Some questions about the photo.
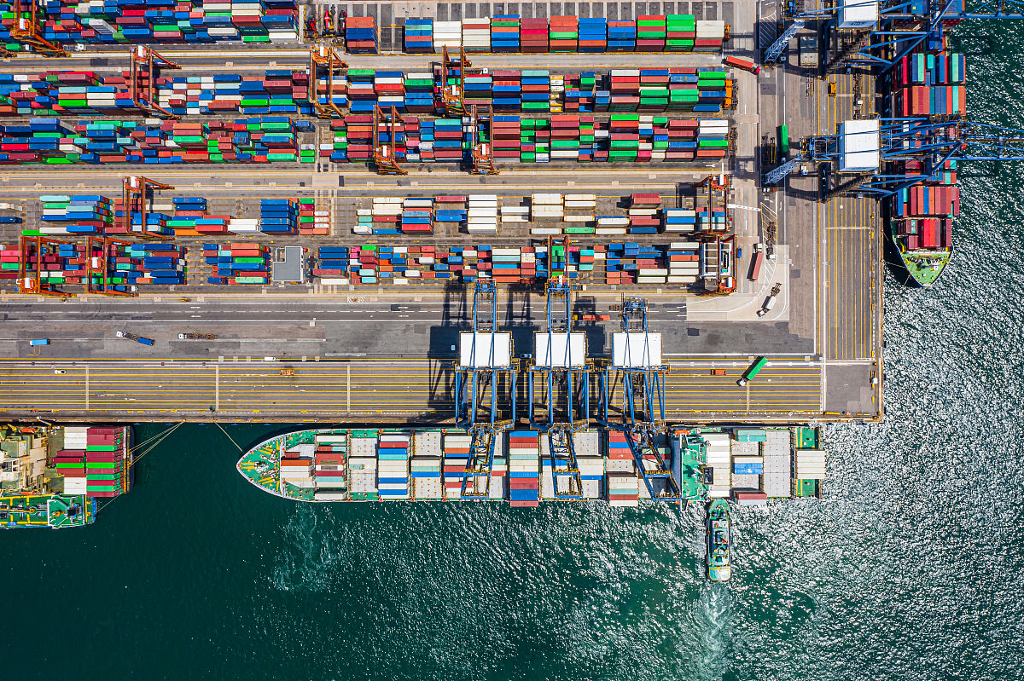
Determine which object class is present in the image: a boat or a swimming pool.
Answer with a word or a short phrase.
boat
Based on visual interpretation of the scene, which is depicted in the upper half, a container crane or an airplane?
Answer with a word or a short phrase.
container crane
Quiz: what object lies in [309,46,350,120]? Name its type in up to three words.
container crane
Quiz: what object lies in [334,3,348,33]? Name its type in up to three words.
work vehicle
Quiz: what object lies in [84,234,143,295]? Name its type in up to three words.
container crane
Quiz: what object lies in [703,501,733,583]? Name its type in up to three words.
boat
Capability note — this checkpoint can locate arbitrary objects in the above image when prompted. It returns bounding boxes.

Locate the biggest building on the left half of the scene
[272,244,306,281]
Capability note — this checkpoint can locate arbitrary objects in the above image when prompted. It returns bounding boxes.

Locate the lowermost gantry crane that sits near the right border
[766,105,1024,207]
